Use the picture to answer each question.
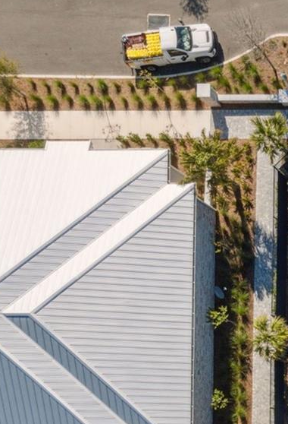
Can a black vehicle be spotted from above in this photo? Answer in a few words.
No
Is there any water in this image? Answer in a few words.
No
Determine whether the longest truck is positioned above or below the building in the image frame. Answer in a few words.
above it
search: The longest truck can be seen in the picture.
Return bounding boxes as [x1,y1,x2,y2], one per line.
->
[119,19,219,70]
